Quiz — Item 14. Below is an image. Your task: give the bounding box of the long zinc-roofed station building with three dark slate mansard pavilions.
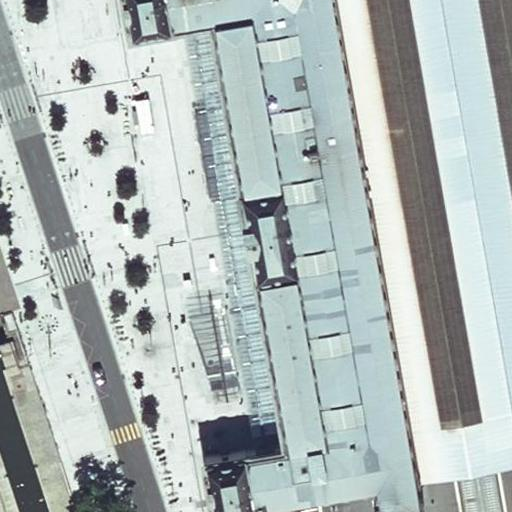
[122,0,427,512]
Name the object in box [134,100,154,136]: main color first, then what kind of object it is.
white vehicle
